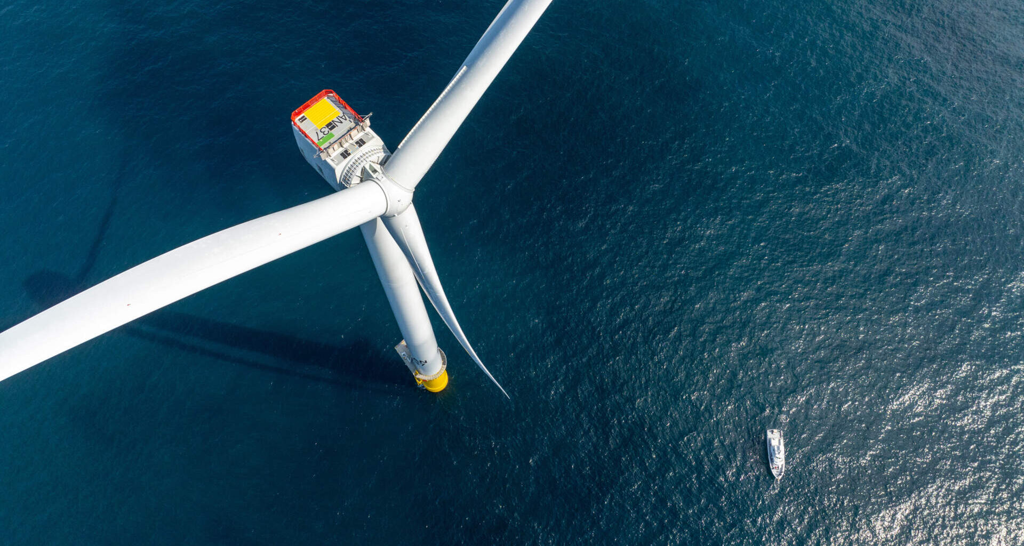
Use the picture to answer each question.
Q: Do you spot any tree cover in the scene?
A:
No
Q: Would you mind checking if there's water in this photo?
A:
Yes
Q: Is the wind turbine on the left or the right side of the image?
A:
left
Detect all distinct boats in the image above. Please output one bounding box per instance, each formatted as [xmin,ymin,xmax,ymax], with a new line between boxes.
[770,429,787,482]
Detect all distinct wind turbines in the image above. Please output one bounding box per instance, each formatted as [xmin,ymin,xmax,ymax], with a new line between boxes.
[0,0,553,406]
